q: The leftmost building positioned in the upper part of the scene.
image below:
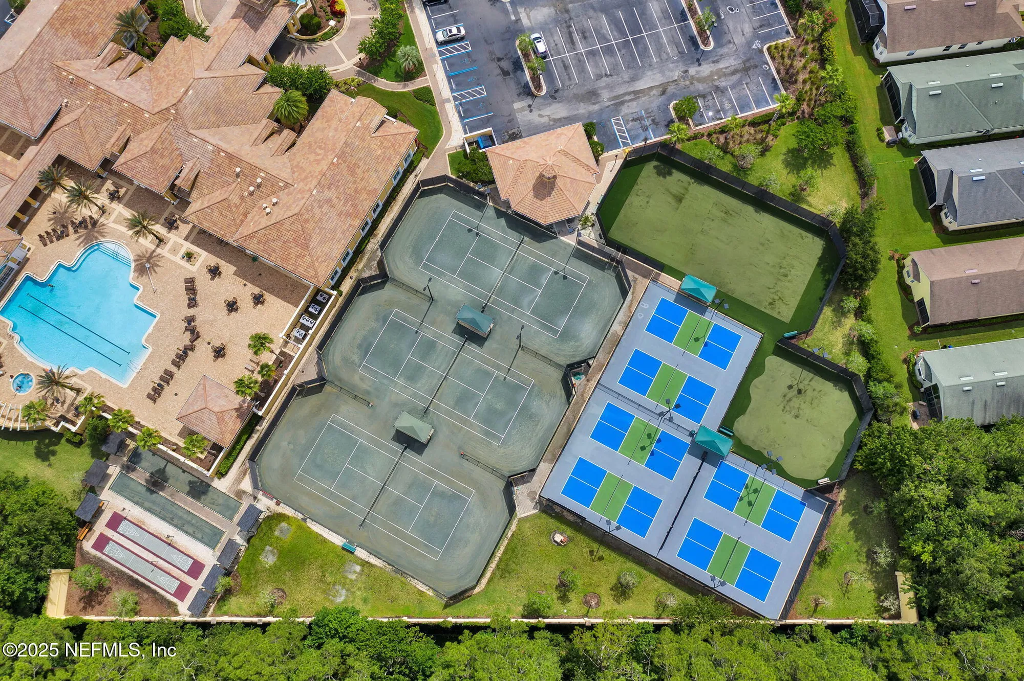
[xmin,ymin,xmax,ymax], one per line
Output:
[0,230,29,290]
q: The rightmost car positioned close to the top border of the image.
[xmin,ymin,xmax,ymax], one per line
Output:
[530,33,549,57]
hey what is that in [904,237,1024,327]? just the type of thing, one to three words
house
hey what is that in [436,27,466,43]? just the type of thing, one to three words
car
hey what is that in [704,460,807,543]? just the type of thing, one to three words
sports court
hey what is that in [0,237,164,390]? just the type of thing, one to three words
swimming pool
